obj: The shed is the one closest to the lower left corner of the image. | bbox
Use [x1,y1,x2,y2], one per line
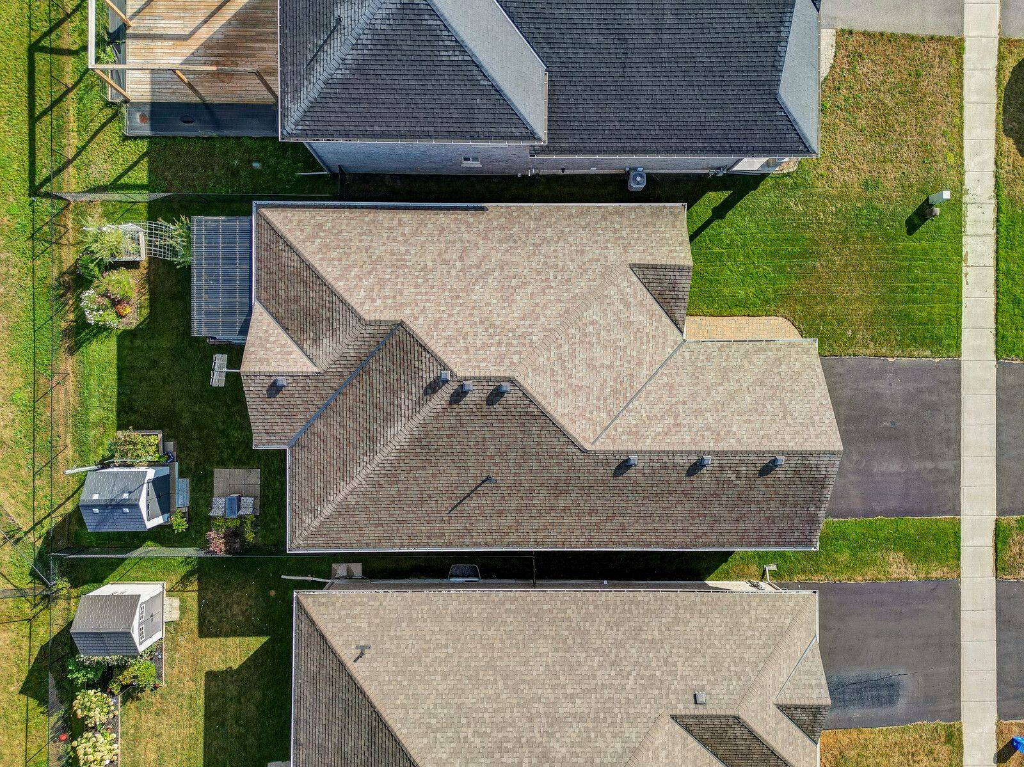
[70,584,162,655]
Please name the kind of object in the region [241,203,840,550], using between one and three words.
house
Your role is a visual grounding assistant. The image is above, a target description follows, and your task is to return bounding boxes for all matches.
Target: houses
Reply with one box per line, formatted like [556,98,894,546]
[279,0,827,178]
[241,203,840,550]
[282,564,832,767]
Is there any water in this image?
No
